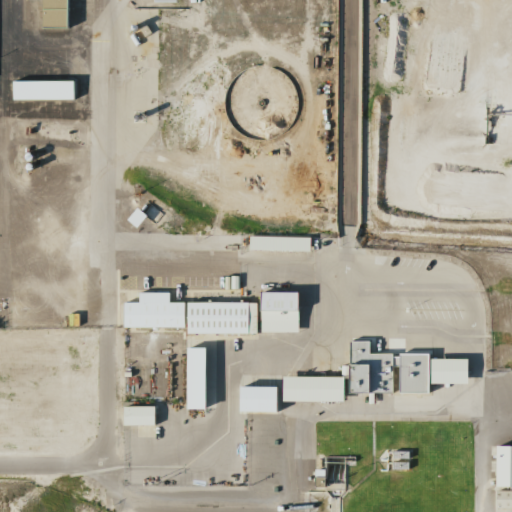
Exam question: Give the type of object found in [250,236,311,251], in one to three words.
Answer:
shed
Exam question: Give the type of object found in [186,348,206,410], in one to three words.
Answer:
barn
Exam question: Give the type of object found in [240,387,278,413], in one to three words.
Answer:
building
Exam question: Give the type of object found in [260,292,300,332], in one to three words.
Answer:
building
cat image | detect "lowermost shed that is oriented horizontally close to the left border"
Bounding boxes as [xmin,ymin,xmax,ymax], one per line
[12,80,75,100]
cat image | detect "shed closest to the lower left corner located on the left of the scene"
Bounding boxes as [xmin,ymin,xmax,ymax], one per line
[123,407,156,426]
